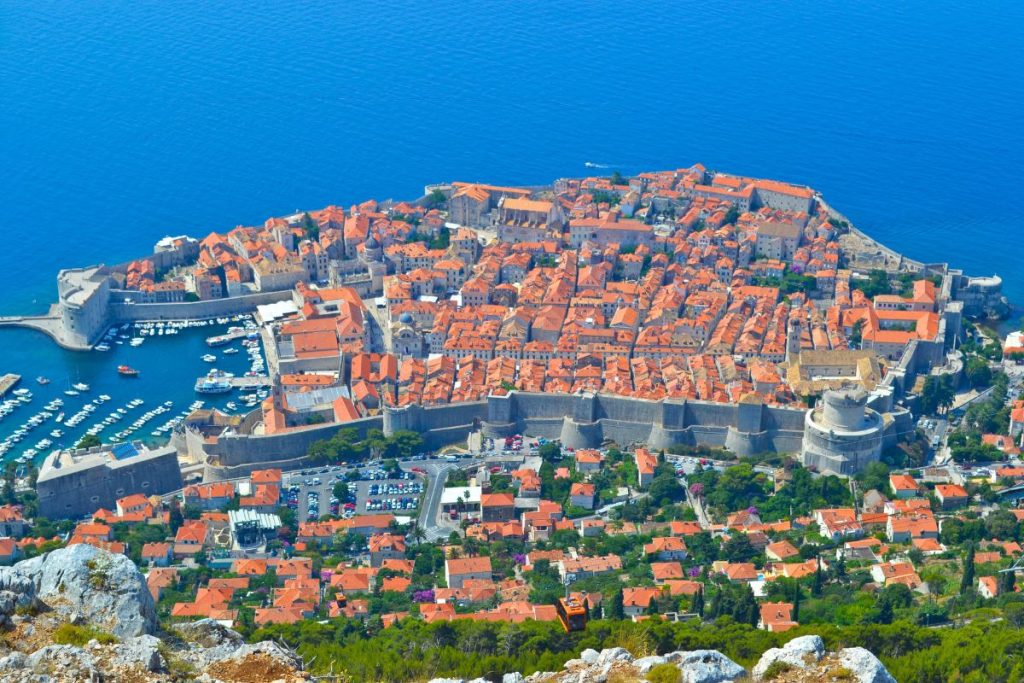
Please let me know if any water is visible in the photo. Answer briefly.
Yes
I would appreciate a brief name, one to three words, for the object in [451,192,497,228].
building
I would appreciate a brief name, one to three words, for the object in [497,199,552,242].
building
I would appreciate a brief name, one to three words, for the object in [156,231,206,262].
house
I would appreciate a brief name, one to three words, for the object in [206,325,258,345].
pier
